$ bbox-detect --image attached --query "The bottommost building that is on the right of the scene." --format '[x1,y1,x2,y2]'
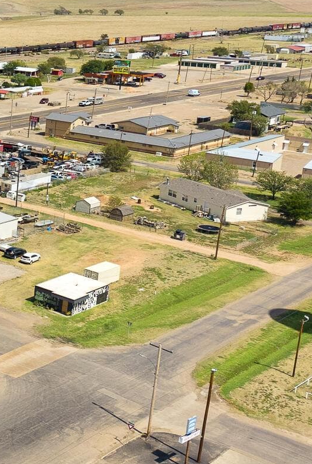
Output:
[158,178,271,222]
